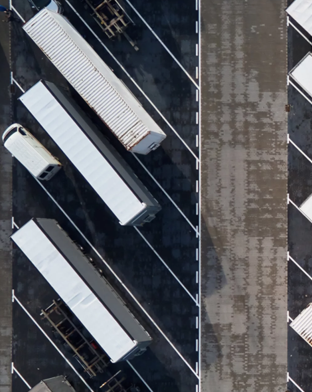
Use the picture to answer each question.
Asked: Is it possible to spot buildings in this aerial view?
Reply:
No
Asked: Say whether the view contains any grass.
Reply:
No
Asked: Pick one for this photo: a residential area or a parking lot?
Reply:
parking lot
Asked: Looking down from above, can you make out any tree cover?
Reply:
No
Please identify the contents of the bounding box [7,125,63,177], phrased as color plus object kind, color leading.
white van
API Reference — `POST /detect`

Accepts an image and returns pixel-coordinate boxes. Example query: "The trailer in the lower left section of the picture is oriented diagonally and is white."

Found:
[10,218,154,362]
